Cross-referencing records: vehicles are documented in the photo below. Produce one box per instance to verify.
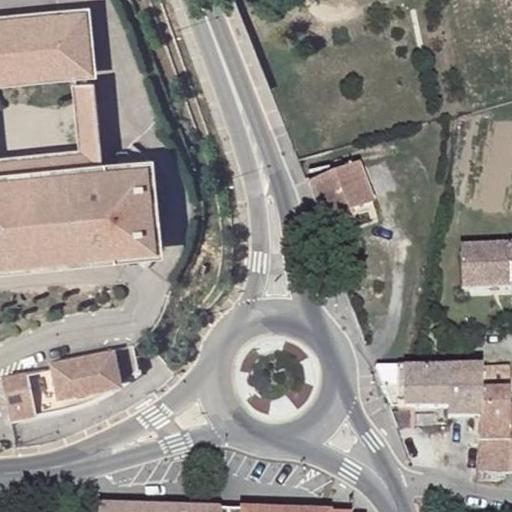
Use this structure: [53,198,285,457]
[144,486,167,496]
[19,352,47,368]
[464,496,488,509]
[48,346,70,358]
[274,464,292,485]
[468,448,478,468]
[250,460,266,480]
[372,226,394,240]
[404,436,418,458]
[452,422,462,442]
[488,500,508,512]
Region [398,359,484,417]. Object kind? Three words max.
building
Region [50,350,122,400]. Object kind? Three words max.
house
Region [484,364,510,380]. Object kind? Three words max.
shed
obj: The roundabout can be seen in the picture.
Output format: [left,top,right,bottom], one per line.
[204,306,352,454]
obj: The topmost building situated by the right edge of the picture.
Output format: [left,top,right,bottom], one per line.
[461,240,512,298]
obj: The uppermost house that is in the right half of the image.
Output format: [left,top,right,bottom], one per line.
[310,160,375,211]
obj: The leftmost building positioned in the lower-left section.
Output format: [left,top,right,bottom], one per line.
[2,369,49,418]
